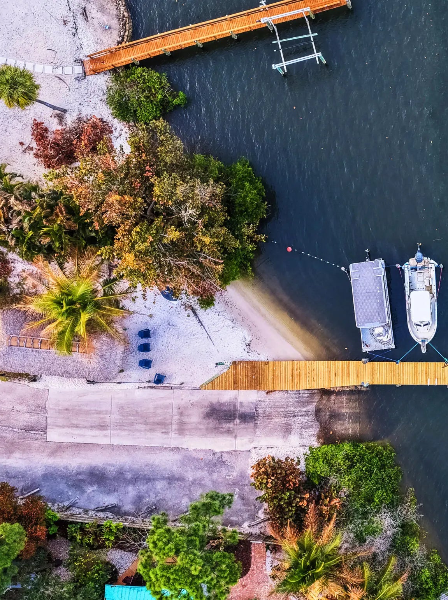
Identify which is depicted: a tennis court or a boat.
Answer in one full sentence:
Visible in the photo is a boat.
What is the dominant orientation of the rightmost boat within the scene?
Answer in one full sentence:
The rightmost boat has been laid out vertically relative to the frame.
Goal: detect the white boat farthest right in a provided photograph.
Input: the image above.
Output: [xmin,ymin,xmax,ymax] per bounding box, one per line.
[401,238,440,354]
